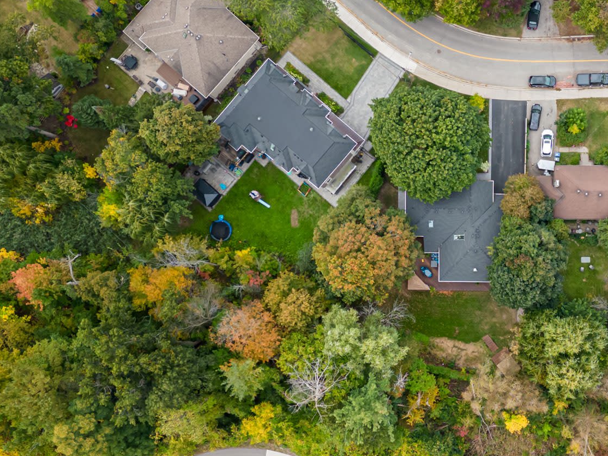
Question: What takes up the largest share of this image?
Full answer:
What you mostly see from above here is trees.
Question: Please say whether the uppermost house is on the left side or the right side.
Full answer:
It is on the left.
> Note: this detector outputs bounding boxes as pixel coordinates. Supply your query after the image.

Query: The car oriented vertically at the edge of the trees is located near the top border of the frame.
[527,0,542,31]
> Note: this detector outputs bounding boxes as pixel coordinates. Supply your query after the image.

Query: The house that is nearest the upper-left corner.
[124,0,264,100]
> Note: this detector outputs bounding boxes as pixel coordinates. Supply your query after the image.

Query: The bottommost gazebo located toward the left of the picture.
[192,179,226,208]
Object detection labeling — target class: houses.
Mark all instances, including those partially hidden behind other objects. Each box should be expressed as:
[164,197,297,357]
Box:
[537,165,608,220]
[214,58,366,195]
[124,0,264,100]
[406,178,505,282]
